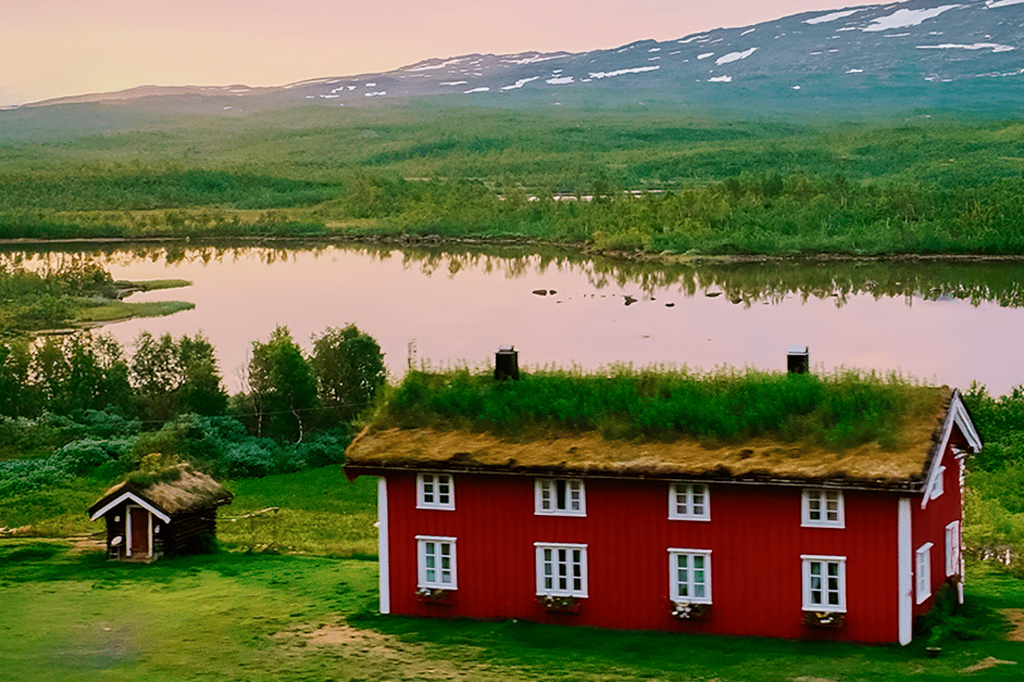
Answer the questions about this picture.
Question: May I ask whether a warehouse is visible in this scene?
No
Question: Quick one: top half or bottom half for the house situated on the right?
bottom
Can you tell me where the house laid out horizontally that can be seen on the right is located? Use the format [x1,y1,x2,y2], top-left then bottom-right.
[339,341,988,643]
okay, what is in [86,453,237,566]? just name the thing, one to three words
shed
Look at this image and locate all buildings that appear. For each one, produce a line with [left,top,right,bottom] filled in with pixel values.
[339,341,988,643]
[86,453,237,566]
